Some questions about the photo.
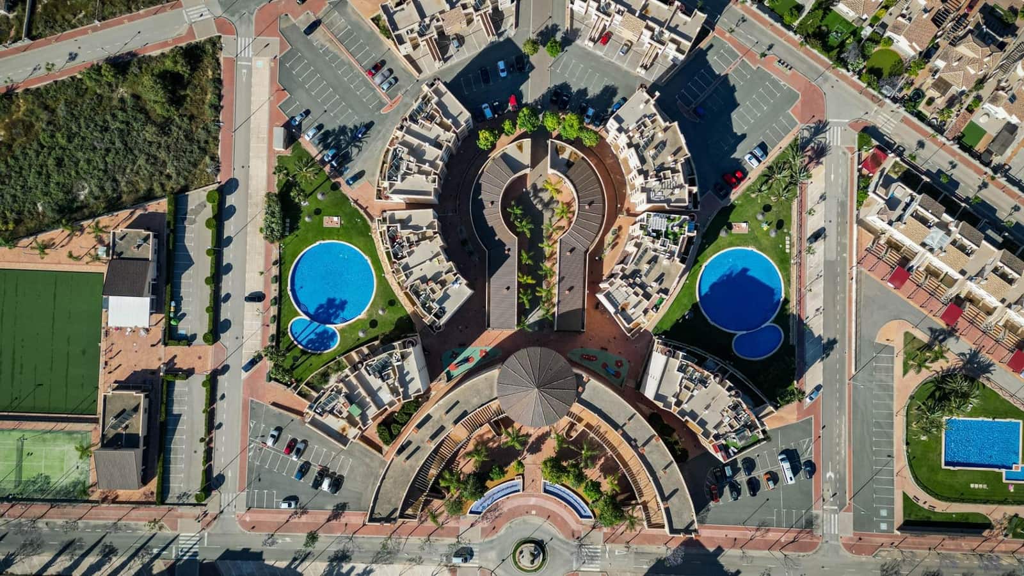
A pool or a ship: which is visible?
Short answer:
pool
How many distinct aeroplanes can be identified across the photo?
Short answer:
0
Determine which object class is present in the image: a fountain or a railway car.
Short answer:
fountain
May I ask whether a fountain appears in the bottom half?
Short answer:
Yes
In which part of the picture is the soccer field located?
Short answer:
left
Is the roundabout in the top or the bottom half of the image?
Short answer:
bottom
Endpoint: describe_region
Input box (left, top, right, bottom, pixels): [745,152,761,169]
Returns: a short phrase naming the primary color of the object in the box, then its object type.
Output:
white car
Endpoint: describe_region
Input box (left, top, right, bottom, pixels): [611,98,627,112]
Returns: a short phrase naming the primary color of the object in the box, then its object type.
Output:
blue car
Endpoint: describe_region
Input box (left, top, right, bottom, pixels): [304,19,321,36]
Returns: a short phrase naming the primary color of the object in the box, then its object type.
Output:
black car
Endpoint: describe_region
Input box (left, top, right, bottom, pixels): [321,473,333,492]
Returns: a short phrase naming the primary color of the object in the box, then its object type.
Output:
white vehicle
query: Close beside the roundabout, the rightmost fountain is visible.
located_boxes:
[542,479,591,518]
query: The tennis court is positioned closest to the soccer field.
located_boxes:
[0,430,91,500]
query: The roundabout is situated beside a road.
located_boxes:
[490,518,570,576]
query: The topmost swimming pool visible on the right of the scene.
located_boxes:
[696,246,785,333]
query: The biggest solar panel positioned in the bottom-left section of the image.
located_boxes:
[110,411,138,438]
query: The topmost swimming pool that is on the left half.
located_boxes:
[287,240,376,327]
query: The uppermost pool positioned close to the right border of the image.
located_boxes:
[943,418,1024,471]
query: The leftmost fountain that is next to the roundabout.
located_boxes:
[468,481,522,515]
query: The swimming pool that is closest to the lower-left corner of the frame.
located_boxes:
[287,317,339,354]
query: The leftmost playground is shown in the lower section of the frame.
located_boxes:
[439,346,502,382]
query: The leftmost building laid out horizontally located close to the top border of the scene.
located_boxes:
[379,0,514,63]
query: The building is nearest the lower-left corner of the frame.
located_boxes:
[93,389,153,489]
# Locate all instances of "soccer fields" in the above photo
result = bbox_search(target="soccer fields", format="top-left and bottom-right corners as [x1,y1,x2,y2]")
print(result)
[0,269,104,417]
